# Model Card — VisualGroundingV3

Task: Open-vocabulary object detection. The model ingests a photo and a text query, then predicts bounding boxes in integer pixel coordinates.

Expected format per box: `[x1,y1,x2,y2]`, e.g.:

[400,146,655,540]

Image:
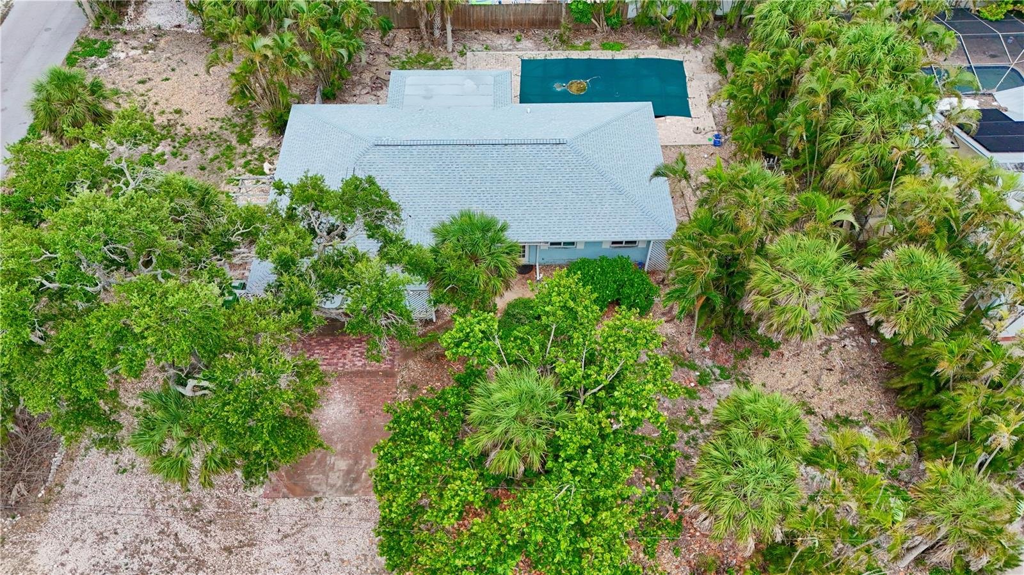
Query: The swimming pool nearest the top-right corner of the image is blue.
[913,64,1024,97]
